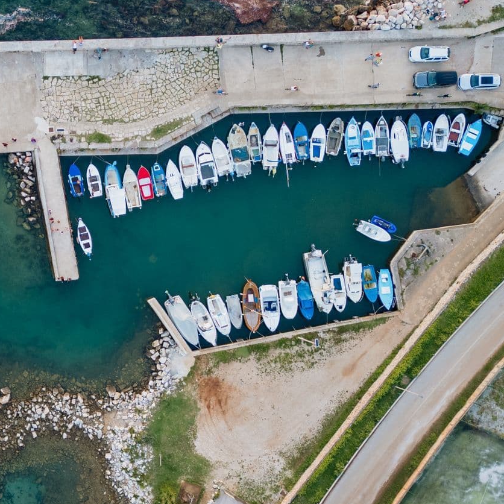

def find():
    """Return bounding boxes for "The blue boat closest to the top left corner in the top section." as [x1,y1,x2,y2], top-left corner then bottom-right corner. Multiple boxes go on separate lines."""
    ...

[67,156,85,206]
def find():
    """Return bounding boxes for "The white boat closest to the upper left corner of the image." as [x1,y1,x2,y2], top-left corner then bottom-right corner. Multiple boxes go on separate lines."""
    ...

[86,157,103,198]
